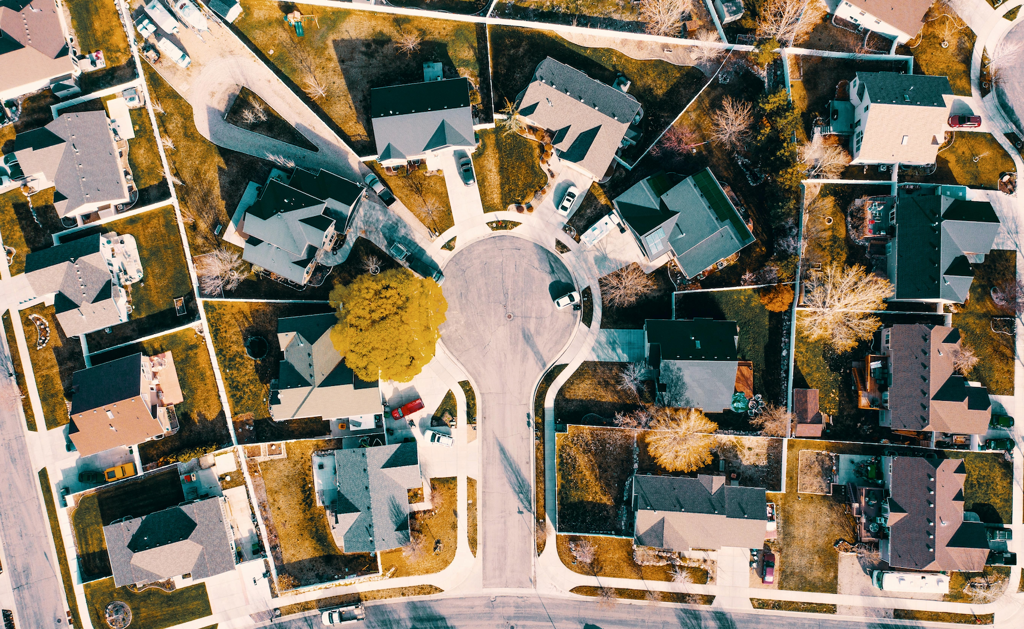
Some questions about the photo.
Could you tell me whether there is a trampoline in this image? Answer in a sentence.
Yes, you can see a trampoline in this photo.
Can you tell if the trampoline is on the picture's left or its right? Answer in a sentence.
The trampoline sits on the left side.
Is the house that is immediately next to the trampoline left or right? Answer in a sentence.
You can find the house that is immediately next to the trampoline on the left side of the picture.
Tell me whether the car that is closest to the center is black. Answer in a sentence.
No, the color of the car that is closest to the center is white.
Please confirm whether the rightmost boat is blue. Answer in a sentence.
No, the color of the rightmost boat is white.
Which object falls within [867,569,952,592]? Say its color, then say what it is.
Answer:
white camper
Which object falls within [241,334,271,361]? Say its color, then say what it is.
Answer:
black trampoline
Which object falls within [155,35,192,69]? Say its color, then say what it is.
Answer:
white van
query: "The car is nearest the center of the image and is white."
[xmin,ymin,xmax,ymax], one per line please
[554,289,581,310]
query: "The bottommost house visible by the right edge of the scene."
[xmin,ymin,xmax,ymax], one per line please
[880,456,990,573]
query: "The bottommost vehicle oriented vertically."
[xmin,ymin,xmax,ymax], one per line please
[761,552,777,585]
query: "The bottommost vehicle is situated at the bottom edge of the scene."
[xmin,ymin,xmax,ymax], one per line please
[321,605,367,626]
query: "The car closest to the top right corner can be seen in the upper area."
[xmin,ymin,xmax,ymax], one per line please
[949,115,982,129]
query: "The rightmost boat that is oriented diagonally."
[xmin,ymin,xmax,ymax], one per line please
[171,0,215,37]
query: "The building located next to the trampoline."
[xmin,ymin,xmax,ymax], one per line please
[268,311,384,421]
